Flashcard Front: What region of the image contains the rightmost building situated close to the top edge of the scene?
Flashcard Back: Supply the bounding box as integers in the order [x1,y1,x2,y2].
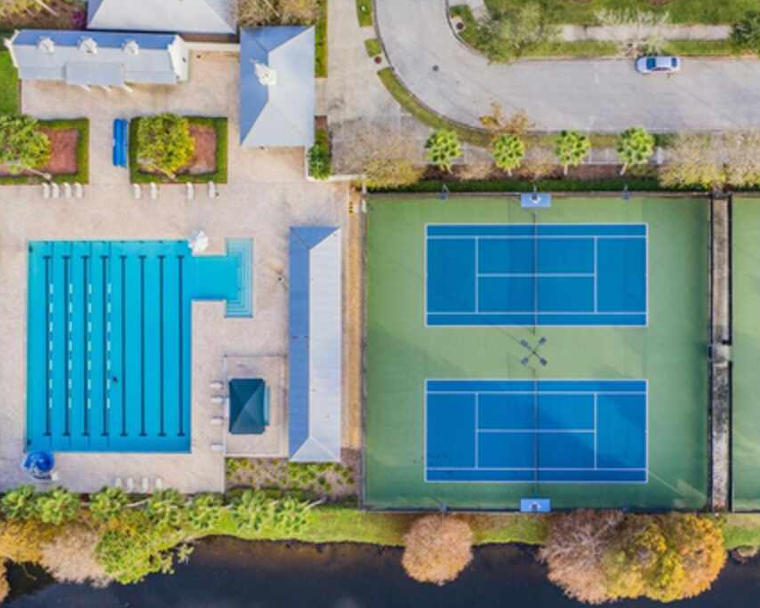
[240,25,316,150]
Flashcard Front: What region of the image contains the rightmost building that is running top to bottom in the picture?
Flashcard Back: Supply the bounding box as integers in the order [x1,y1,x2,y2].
[289,227,343,462]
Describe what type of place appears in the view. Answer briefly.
sports ground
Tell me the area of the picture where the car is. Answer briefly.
top right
